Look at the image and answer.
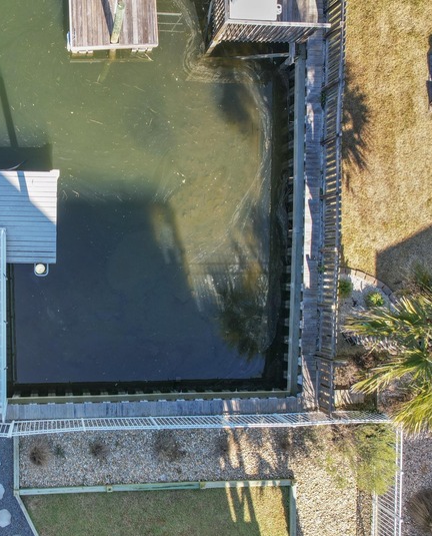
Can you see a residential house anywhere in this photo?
No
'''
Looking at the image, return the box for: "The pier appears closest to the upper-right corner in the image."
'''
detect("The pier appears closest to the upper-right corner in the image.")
[204,0,339,68]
